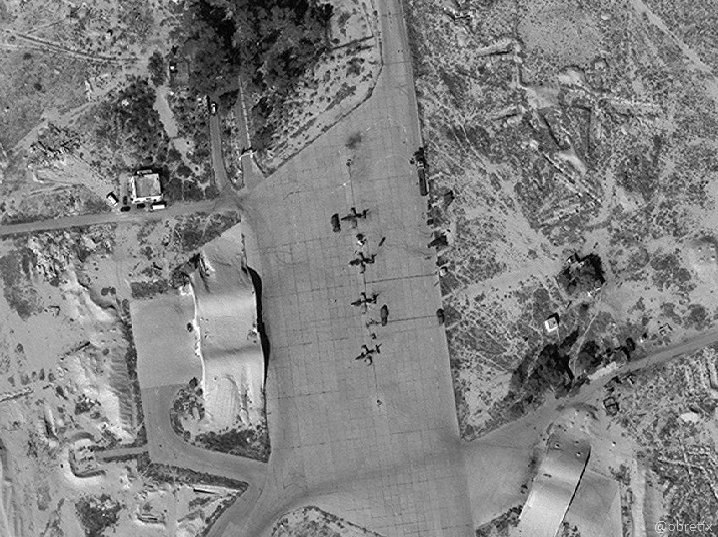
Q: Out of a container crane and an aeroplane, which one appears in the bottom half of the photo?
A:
aeroplane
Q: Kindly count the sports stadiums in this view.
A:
0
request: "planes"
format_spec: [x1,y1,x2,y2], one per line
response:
[341,207,368,228]
[356,344,381,365]
[351,291,378,313]
[350,251,377,272]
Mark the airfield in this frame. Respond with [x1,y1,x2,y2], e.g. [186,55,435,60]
[97,0,621,537]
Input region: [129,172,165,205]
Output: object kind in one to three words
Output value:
house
